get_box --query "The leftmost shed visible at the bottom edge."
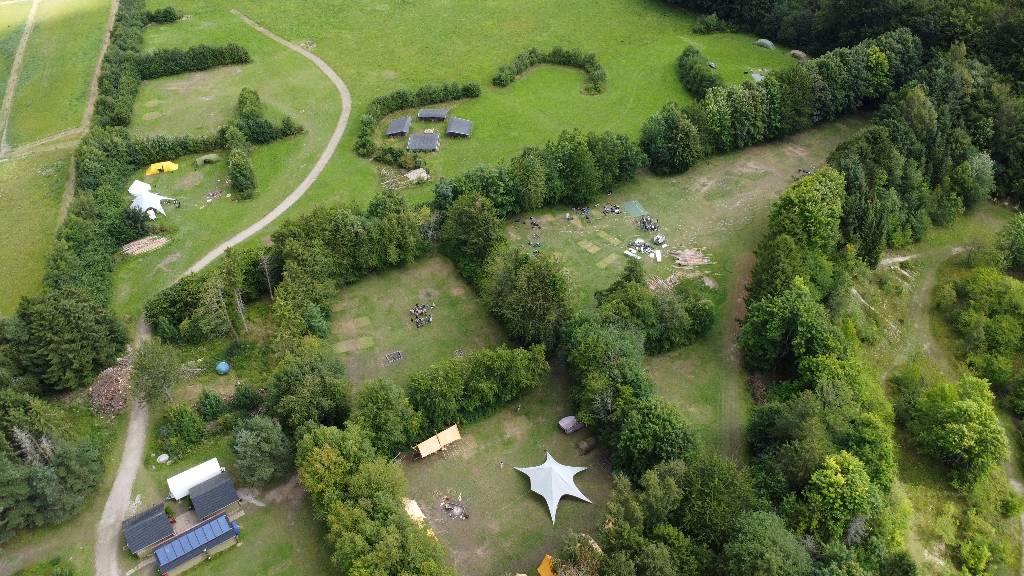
[124,502,174,560]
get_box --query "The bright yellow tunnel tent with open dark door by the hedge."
[146,158,178,179]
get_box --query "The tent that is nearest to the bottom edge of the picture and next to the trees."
[510,448,601,523]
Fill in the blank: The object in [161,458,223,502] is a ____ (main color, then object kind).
white trailer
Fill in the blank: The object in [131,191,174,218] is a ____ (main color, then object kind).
white tent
